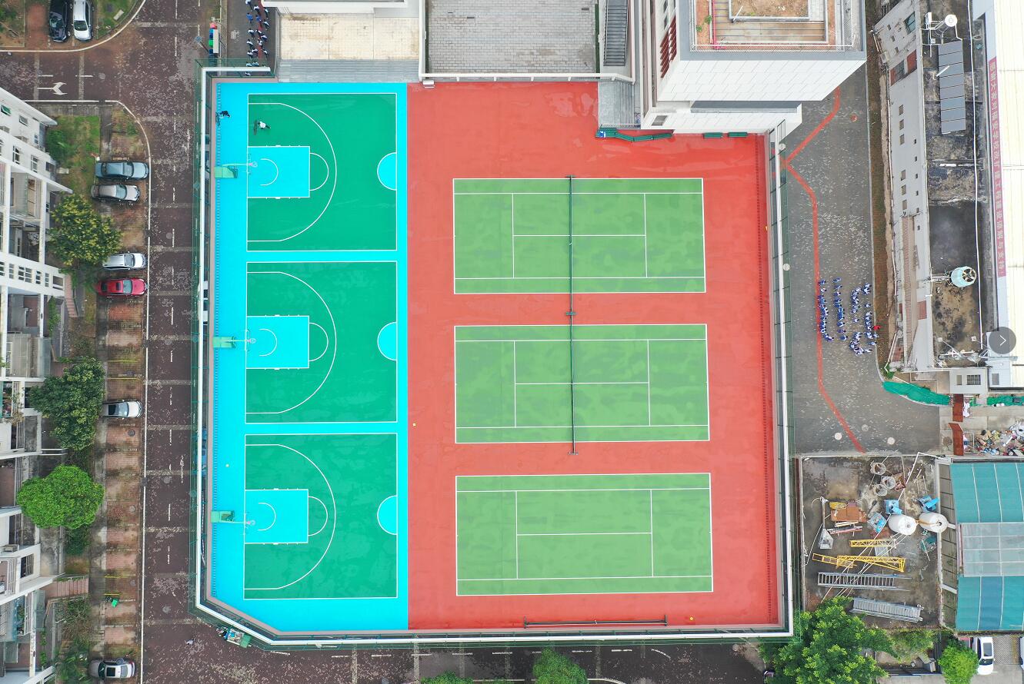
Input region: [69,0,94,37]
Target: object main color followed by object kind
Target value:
white car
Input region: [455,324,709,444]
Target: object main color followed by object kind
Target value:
green tennis court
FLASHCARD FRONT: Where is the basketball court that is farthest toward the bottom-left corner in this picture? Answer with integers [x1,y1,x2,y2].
[243,433,398,601]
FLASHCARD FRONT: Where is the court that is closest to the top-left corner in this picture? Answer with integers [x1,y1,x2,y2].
[246,93,397,251]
